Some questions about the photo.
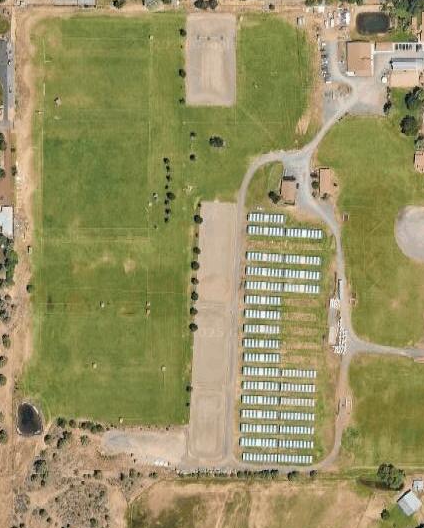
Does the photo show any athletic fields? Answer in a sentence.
Yes, I can see an athletic field in this picture.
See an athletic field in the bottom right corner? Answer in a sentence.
No, there is no athletic field in the bottom right corner.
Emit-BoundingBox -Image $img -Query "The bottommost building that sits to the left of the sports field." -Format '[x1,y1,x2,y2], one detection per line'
[0,206,13,238]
